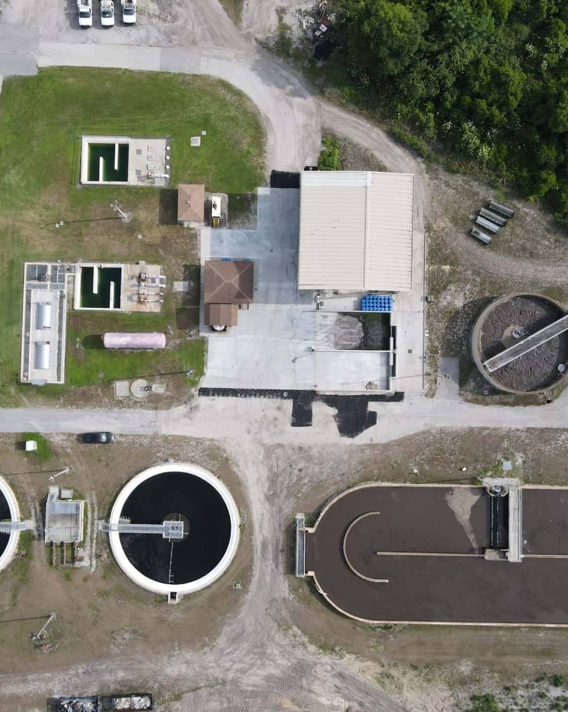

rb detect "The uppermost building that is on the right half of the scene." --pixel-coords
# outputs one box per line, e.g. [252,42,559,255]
[298,171,413,291]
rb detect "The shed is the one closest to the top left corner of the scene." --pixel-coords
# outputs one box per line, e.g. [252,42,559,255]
[178,185,204,223]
